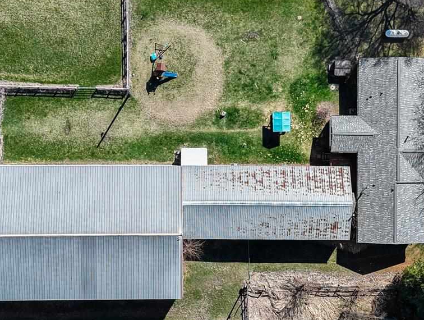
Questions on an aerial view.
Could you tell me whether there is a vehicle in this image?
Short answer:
No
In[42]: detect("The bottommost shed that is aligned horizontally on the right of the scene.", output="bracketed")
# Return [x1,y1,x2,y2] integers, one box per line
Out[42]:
[183,166,358,239]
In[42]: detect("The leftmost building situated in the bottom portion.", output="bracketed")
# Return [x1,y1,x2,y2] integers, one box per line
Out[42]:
[0,164,183,300]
